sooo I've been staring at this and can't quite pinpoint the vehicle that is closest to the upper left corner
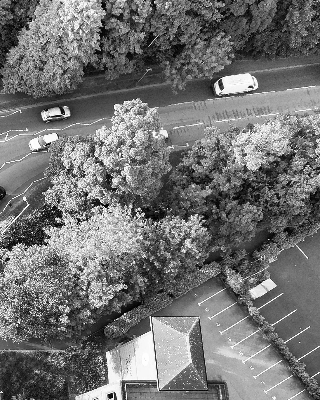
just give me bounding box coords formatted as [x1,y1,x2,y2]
[40,104,72,125]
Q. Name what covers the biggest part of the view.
trees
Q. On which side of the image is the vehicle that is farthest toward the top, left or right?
right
